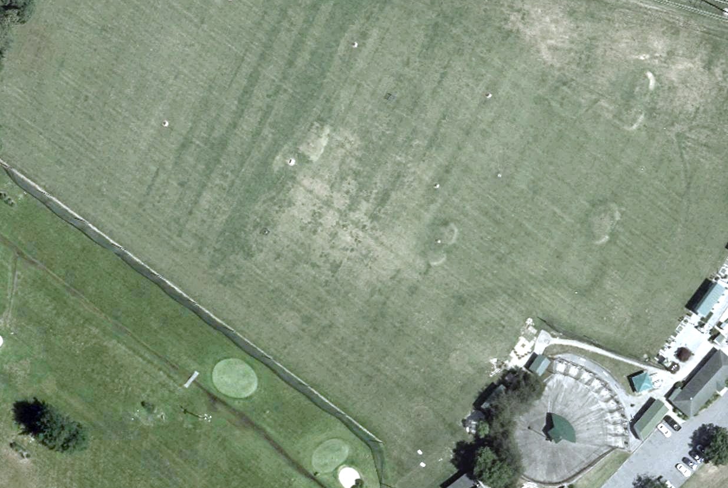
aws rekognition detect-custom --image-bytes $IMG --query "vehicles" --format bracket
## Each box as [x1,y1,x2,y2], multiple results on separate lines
[664,415,681,431]
[682,454,697,471]
[666,479,676,488]
[675,461,691,478]
[656,422,671,438]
